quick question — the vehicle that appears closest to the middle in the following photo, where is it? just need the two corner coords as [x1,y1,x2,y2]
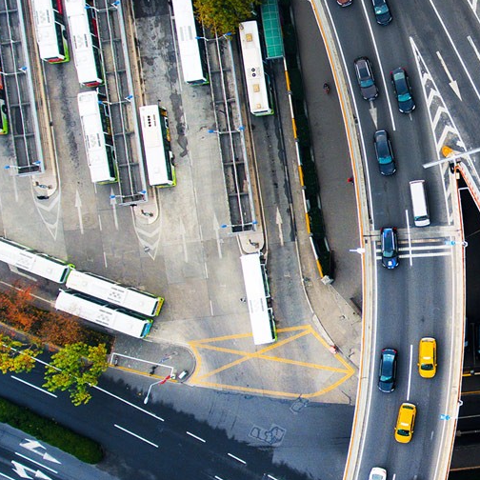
[241,249,281,343]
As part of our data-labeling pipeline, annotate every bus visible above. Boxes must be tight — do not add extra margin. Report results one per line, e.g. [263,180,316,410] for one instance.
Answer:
[68,0,105,89]
[139,102,177,187]
[57,289,161,341]
[241,249,281,343]
[174,0,210,87]
[0,235,79,286]
[77,88,117,185]
[238,18,276,118]
[67,268,172,318]
[35,0,74,66]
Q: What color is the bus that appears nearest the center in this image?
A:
white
